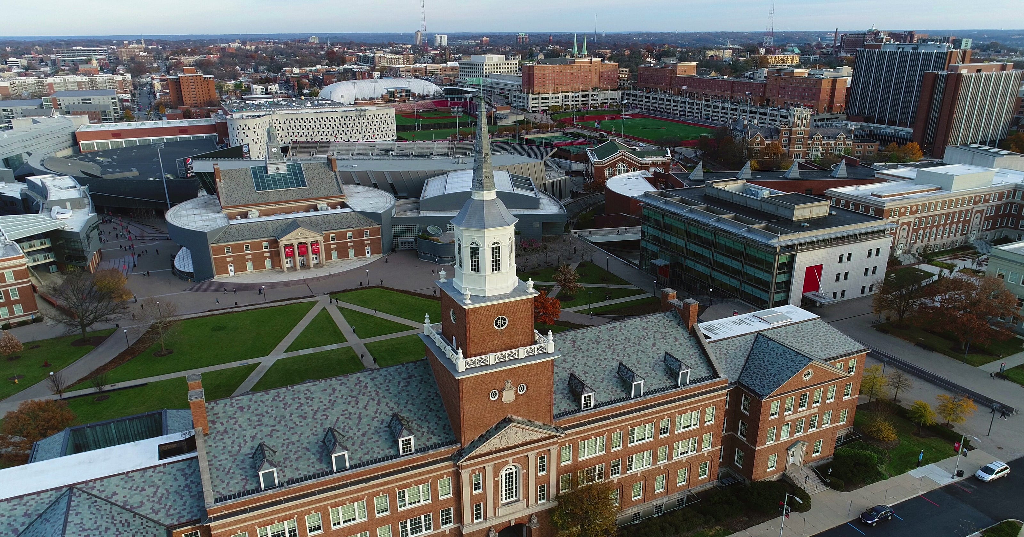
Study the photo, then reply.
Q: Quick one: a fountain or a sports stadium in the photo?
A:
sports stadium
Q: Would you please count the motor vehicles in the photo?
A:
2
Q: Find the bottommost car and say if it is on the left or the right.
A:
right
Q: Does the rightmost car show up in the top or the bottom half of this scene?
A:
bottom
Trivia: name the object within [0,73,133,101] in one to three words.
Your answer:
building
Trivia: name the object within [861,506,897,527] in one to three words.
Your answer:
car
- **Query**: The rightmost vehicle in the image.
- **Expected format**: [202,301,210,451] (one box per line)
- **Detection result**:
[977,458,1012,481]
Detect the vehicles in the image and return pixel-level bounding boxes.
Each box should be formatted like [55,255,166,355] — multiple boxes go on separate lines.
[977,458,1012,481]
[861,506,897,527]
